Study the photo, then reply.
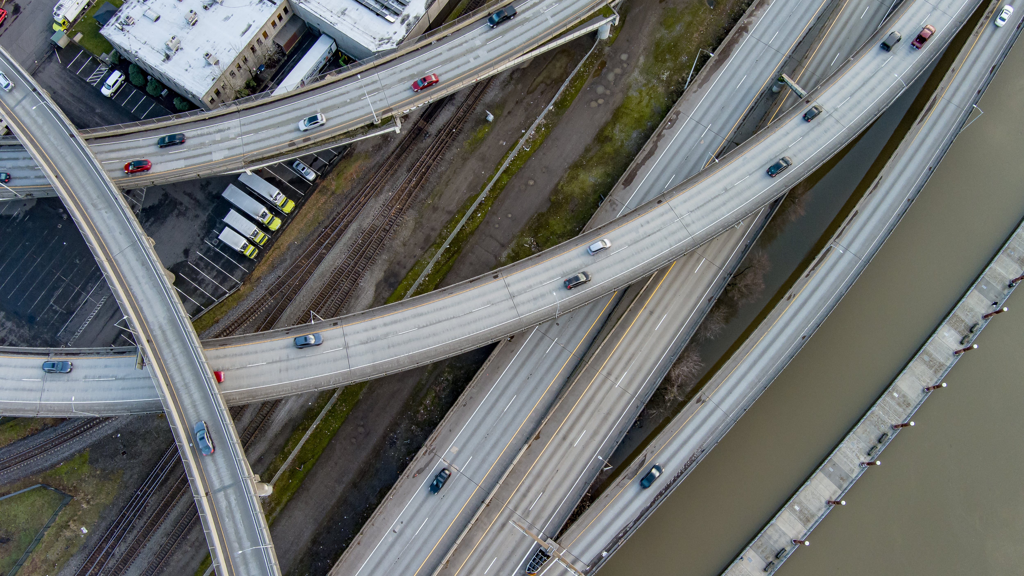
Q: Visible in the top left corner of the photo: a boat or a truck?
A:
truck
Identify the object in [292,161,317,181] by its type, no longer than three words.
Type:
car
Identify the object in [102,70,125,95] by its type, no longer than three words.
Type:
car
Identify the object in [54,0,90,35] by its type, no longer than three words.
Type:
truck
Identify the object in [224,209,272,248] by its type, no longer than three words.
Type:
truck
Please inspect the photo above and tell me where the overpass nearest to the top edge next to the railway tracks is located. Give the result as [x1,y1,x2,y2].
[0,0,983,416]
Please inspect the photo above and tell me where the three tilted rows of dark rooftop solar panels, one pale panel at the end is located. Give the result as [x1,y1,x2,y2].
[355,0,410,20]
